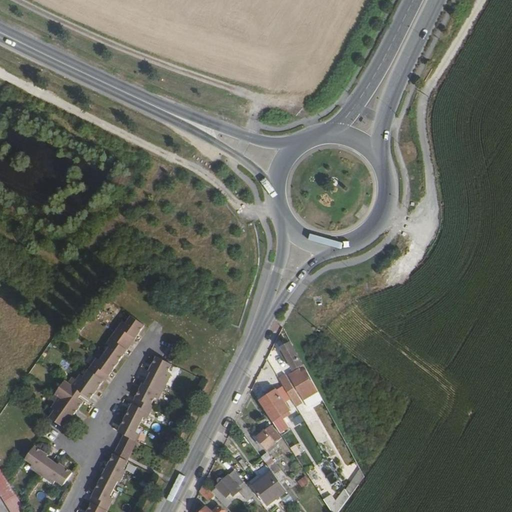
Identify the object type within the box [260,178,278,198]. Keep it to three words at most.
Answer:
vehicle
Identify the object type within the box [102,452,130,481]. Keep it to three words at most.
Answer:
house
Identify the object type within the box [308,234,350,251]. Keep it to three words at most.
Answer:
vehicle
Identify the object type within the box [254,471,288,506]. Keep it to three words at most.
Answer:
house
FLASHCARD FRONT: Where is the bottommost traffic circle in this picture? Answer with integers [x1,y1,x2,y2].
[268,126,395,254]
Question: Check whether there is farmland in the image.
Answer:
Yes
